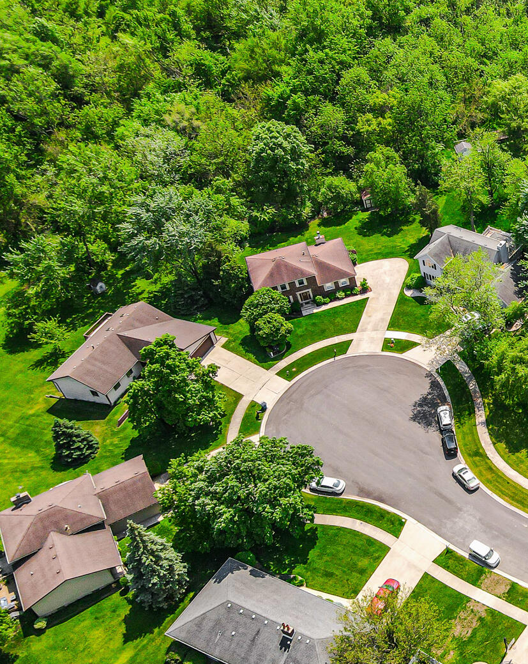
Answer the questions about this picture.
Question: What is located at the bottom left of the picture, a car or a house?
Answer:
house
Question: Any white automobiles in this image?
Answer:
Yes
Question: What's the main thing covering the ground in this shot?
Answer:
trees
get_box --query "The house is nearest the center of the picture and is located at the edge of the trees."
[245,231,353,312]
